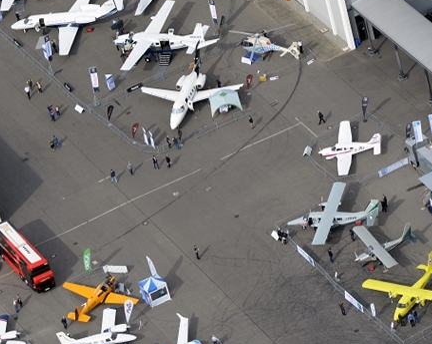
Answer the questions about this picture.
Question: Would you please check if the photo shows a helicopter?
Yes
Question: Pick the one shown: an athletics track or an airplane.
airplane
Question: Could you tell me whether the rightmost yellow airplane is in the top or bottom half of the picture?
bottom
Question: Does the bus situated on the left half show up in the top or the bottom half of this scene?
bottom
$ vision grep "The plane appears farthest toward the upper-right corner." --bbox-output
[318,122,380,174]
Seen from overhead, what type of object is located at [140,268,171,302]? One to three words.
tent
